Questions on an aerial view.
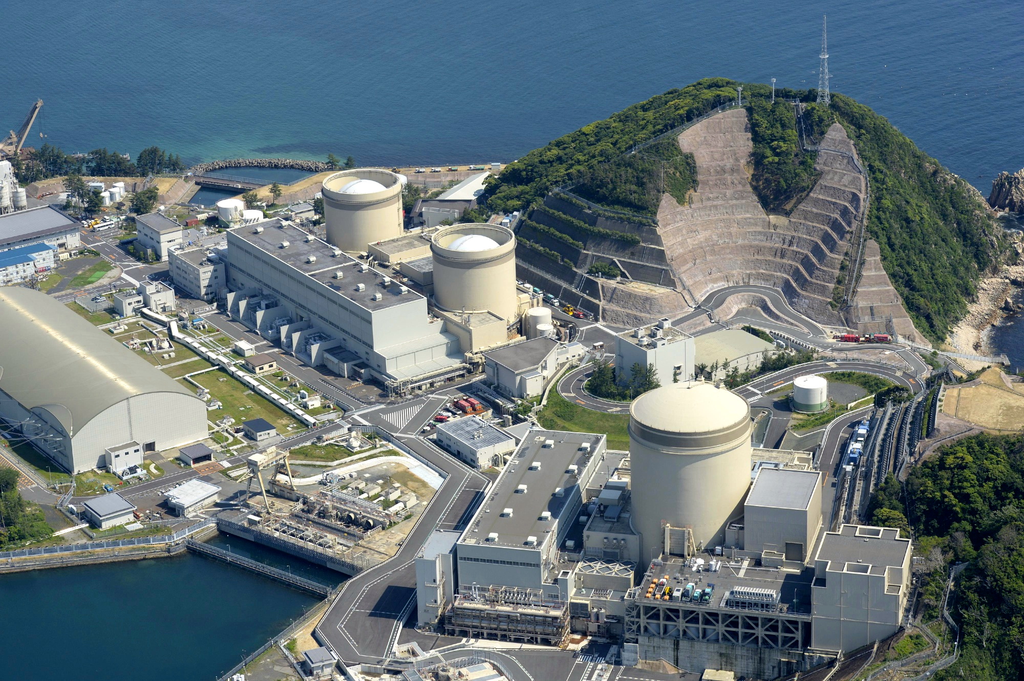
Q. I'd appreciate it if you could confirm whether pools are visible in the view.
No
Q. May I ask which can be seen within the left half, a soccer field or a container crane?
container crane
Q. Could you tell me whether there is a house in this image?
Yes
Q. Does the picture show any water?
Yes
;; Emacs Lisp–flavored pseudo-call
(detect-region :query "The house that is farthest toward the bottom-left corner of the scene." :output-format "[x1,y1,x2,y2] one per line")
[81,493,137,529]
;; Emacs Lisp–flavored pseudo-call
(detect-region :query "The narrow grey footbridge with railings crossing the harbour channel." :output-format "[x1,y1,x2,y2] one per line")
[190,540,334,601]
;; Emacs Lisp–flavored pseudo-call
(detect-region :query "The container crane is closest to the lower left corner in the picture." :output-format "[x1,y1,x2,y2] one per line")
[235,442,298,514]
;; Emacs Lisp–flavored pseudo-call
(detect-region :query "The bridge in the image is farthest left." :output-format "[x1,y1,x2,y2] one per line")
[175,170,261,198]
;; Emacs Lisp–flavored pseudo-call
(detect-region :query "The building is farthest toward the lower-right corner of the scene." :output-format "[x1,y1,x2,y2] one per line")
[811,524,911,660]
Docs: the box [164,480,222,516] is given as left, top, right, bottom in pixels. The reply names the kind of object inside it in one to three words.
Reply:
house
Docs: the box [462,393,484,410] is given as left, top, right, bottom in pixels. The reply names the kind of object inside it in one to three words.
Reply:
vehicle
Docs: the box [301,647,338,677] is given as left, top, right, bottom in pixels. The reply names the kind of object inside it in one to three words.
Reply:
building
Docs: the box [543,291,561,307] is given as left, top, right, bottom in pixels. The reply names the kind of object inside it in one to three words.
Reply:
vehicle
